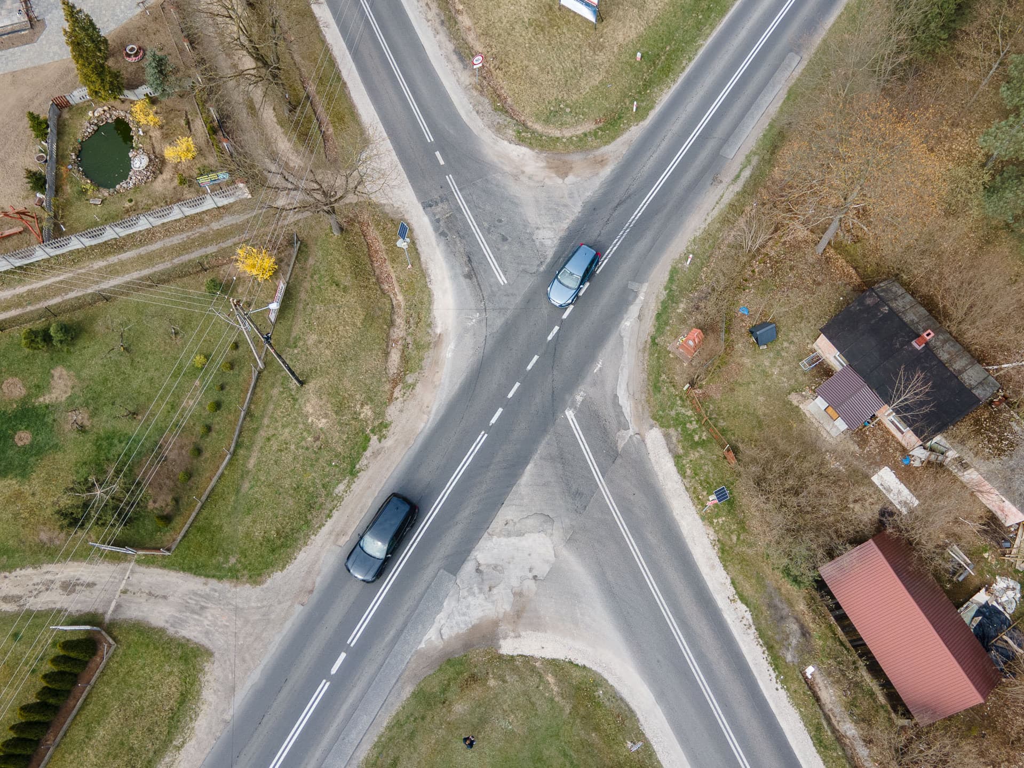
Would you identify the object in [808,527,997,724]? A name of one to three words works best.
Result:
barn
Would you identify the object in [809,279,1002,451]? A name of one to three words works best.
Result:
house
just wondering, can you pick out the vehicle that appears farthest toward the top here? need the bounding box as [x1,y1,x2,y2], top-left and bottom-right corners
[548,242,603,310]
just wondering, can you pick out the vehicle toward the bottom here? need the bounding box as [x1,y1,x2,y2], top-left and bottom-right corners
[346,489,419,583]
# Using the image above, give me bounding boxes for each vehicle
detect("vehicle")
[548,242,603,310]
[346,489,419,583]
